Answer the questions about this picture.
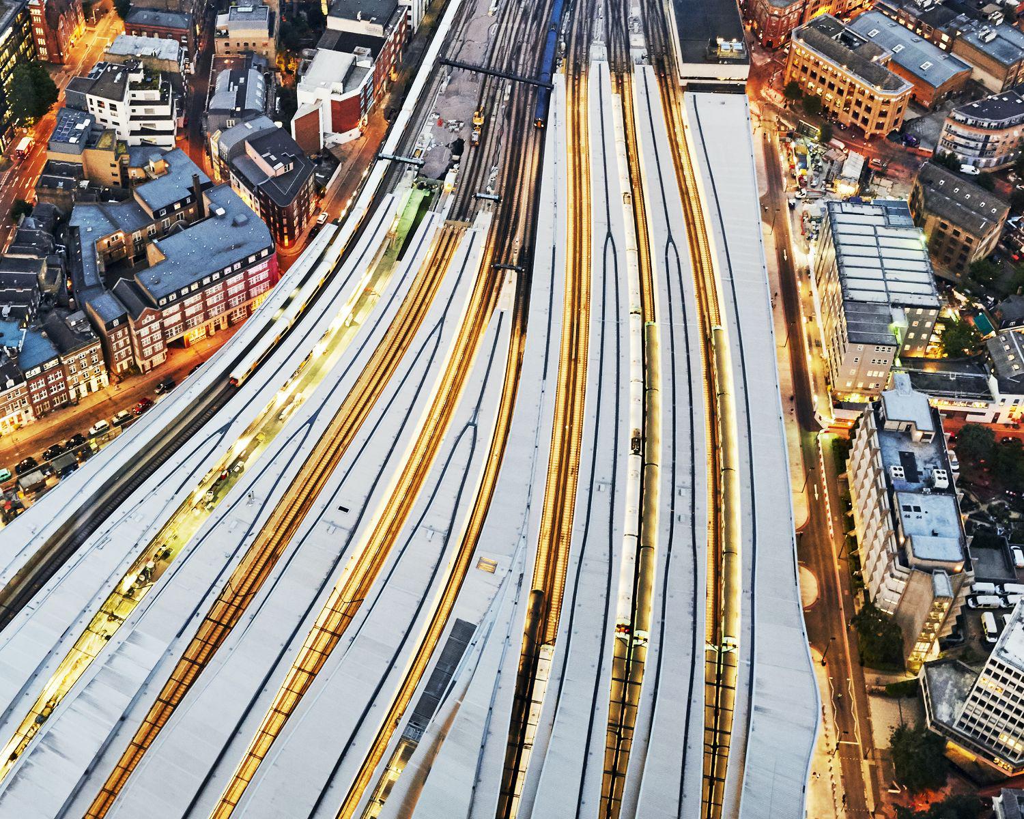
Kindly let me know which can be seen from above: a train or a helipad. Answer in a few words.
train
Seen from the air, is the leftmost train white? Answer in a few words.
Yes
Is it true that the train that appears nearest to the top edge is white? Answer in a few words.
No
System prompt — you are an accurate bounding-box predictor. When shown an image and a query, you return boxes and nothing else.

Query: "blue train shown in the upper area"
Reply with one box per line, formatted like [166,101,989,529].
[534,0,567,136]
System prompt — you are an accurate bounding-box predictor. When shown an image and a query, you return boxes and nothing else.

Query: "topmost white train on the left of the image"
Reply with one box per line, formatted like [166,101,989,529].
[235,0,468,392]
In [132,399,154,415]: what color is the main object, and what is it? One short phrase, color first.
red car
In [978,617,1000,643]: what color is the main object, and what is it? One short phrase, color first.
white vehicle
